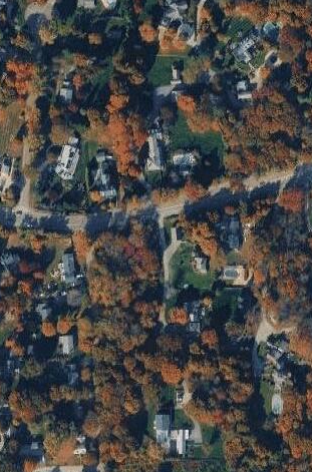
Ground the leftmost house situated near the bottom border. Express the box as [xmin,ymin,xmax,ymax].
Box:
[20,442,45,463]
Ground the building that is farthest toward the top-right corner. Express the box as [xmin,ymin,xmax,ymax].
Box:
[232,33,261,63]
